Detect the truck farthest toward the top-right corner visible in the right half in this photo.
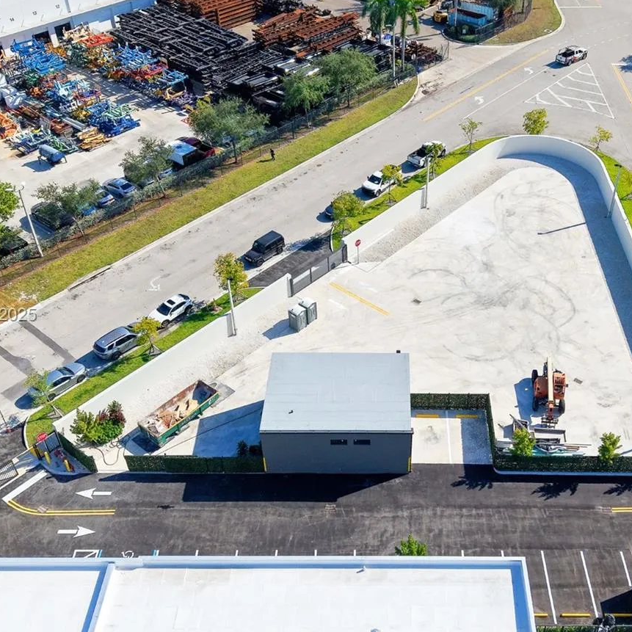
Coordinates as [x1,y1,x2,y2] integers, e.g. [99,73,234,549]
[552,45,590,67]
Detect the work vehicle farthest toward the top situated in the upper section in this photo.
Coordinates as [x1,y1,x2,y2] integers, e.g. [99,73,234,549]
[426,9,448,29]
